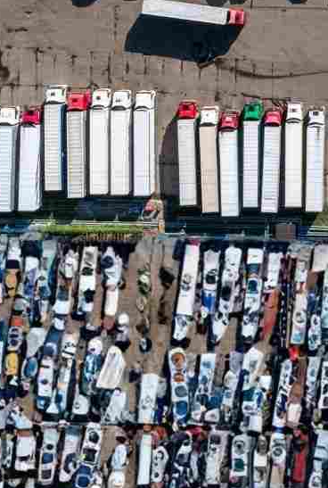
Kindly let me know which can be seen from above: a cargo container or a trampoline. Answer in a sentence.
I can see a cargo container in this picture.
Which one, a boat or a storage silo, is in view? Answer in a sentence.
The image shows a boat.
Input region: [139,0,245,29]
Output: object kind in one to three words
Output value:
truck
